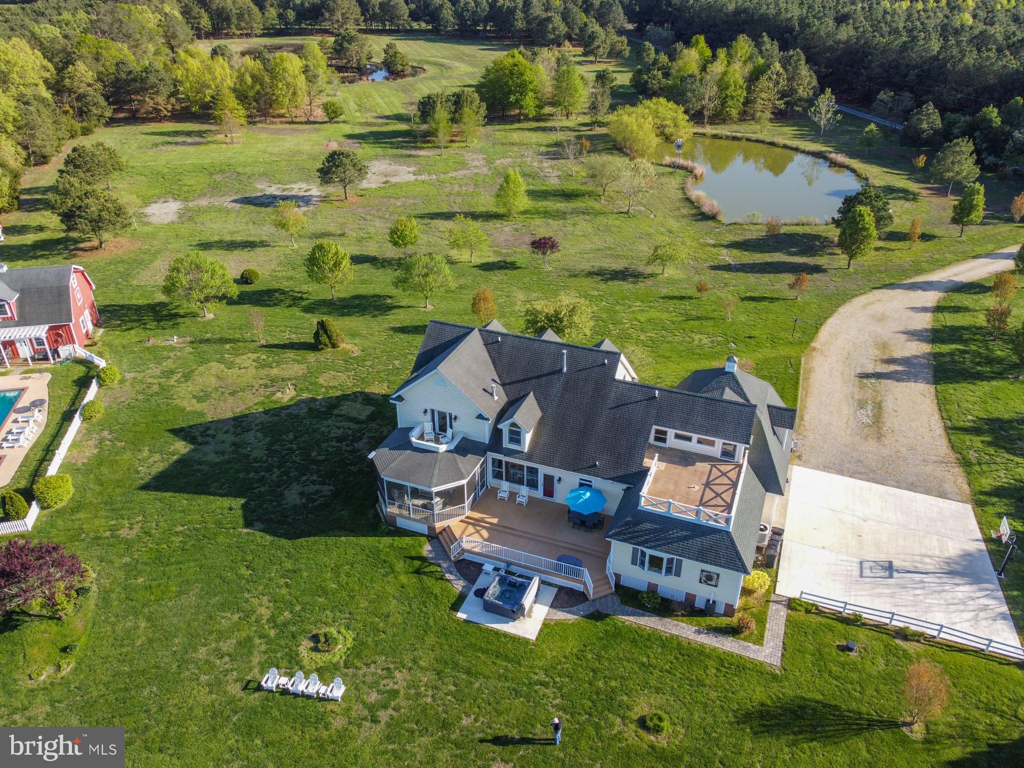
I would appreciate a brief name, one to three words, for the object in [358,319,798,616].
house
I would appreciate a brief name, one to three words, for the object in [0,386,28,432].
swimming pool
